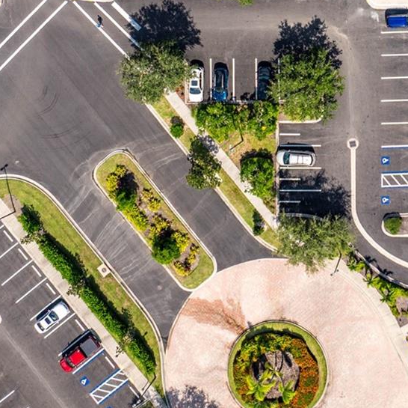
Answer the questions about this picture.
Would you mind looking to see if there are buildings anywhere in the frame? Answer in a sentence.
No, there's no building here.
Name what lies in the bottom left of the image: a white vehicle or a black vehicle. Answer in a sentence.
The one visible in the bottom left of the image is a white vehicle.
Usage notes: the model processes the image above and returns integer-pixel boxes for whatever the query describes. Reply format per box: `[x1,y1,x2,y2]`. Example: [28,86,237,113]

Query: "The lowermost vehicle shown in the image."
[60,332,102,371]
